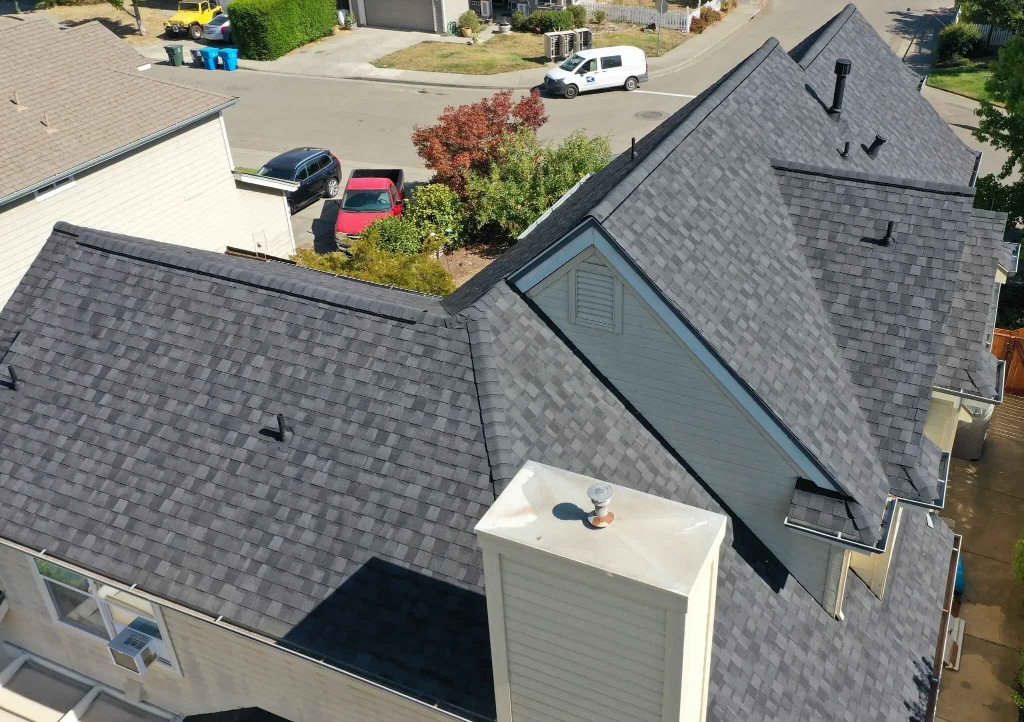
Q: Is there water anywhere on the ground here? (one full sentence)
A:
No, the scene doesn't show any water.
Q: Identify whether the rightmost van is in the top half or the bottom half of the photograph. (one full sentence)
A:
The rightmost van is in the top half of the image.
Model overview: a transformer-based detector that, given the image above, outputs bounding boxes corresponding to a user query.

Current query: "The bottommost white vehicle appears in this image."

[538,43,652,99]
